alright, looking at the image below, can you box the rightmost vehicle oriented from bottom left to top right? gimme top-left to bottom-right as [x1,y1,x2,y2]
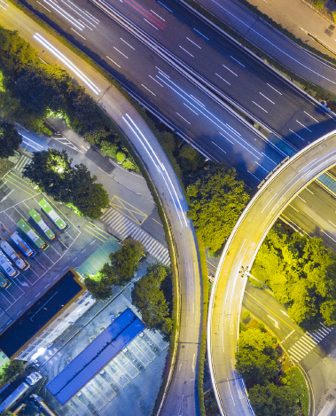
[23,371,41,385]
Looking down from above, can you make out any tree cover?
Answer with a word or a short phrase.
Yes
